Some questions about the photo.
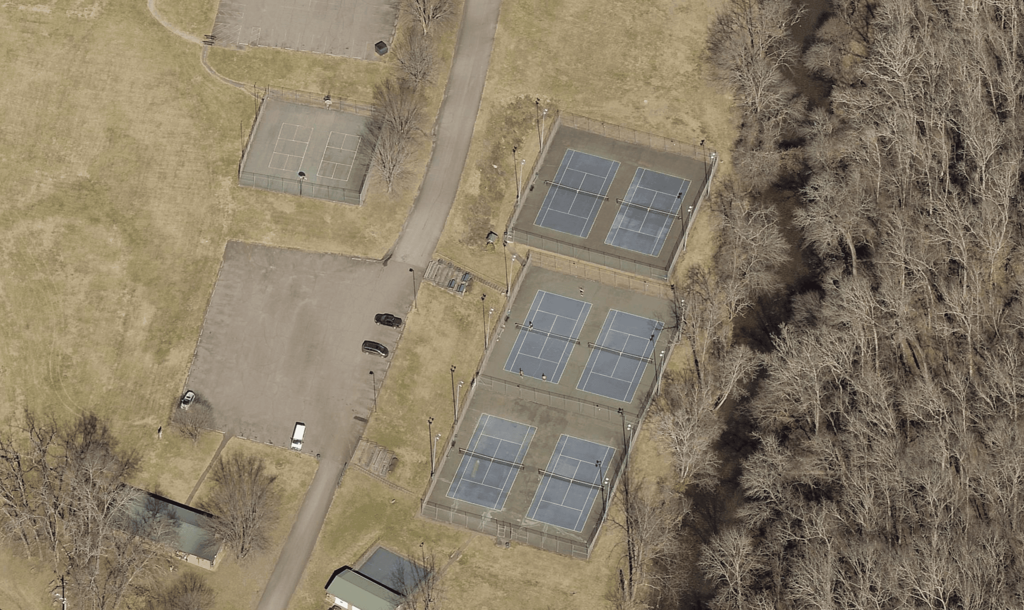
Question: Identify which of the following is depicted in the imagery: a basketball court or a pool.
basketball court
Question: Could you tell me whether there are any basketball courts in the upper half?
Yes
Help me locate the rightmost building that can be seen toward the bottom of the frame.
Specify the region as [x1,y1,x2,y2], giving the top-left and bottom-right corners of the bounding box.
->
[329,569,406,610]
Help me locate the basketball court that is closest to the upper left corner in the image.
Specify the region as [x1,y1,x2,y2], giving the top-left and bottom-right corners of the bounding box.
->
[238,98,389,206]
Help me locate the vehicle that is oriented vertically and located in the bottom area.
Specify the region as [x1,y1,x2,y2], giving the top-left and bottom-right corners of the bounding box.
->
[291,425,306,452]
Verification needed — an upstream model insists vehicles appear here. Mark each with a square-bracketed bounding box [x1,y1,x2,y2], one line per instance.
[179,392,196,410]
[372,315,403,330]
[291,425,306,452]
[362,343,389,359]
